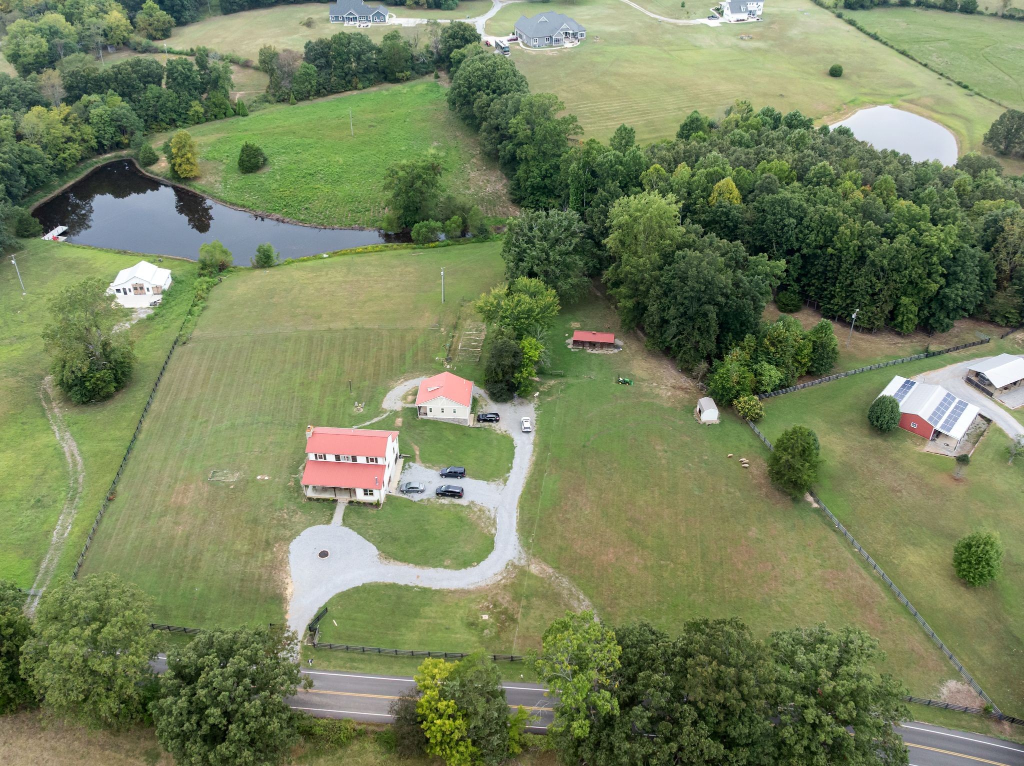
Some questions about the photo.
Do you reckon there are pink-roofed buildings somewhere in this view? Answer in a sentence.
Yes, looking at the shot, I can spot a pink-roofed building.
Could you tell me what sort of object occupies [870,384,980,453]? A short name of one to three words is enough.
barn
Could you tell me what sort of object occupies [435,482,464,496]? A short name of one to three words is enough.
car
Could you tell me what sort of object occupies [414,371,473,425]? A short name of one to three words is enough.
house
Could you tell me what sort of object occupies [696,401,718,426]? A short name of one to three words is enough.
shed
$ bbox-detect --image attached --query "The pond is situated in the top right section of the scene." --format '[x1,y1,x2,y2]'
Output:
[813,106,959,193]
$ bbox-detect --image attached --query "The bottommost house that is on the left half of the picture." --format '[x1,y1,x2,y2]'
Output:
[299,418,401,504]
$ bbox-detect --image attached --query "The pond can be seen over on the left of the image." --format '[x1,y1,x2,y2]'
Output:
[33,160,503,268]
